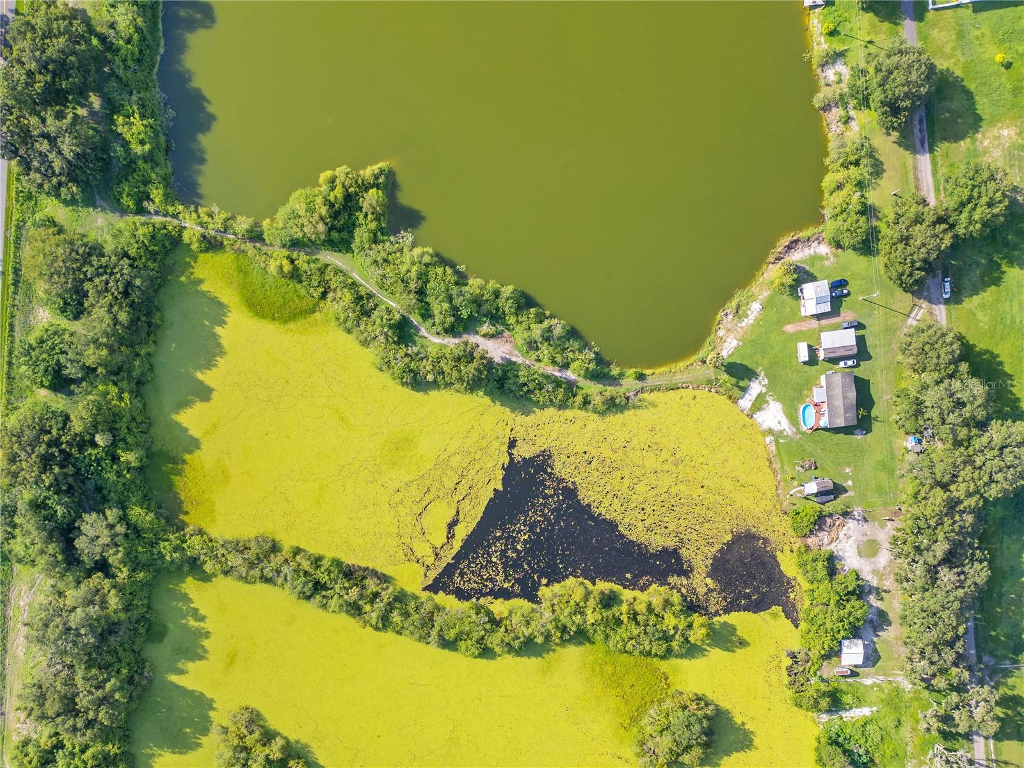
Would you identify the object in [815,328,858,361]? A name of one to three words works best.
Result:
house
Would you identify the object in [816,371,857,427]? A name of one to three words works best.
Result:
house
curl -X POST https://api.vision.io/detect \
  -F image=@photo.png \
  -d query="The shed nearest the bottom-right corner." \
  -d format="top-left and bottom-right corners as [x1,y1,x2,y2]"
[838,637,865,664]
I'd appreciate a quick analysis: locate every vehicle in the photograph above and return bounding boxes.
[840,320,860,329]
[831,287,849,297]
[941,278,952,299]
[828,278,847,288]
[838,359,857,368]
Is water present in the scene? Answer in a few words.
Yes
